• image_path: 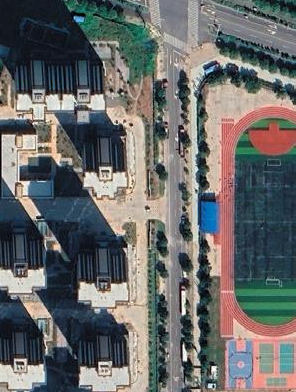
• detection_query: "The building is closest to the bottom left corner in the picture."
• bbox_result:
[0,326,47,391]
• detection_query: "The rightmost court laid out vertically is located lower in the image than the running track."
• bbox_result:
[280,343,294,372]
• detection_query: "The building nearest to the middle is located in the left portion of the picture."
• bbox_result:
[81,134,128,199]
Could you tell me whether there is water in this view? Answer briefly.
No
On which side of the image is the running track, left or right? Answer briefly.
right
